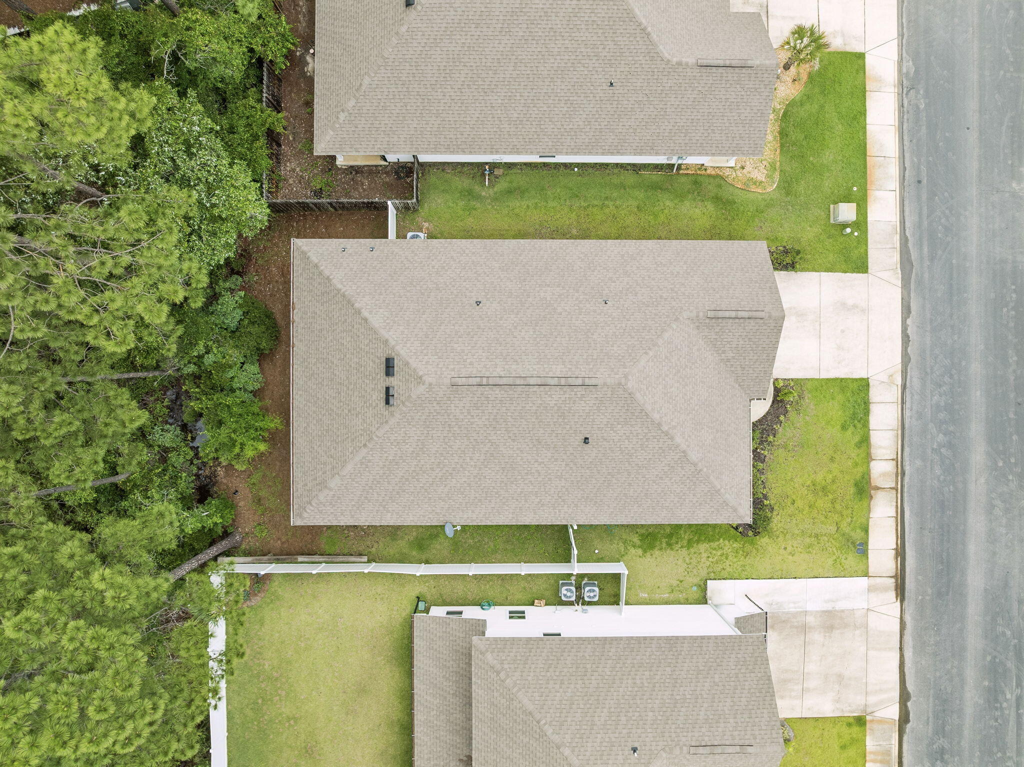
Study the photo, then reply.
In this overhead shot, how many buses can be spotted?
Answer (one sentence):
There are no buses in this view.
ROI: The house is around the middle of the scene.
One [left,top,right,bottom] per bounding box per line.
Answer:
[291,237,783,527]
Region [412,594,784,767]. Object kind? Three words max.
house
